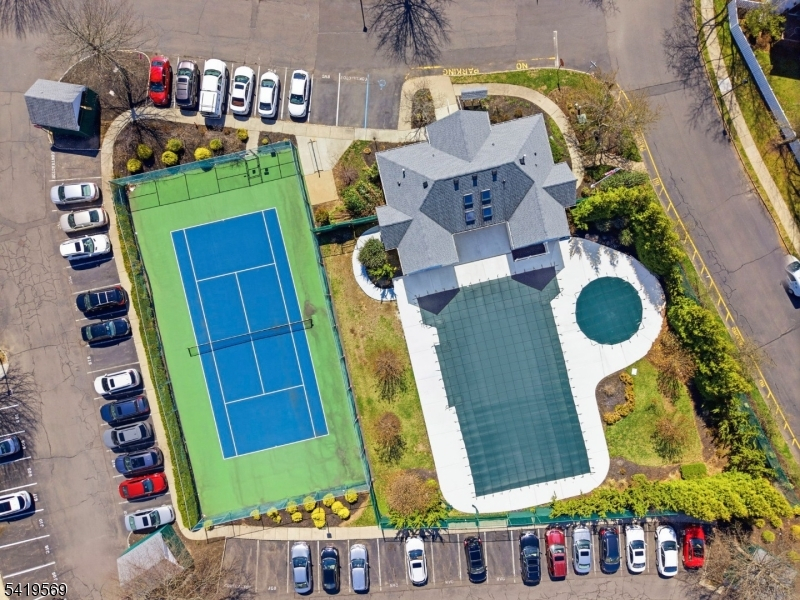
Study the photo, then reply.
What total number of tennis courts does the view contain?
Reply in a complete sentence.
The count comes to 1 tennis court.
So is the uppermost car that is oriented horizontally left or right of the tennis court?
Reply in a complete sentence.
The uppermost car that is oriented horizontally can be seen on the left of the tennis court.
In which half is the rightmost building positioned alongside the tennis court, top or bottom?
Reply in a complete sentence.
The rightmost building positioned alongside the tennis court sits in the top half of the picture.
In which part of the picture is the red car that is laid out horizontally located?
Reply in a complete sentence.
The red car that is laid out horizontally appears toward the bottom left of the photo.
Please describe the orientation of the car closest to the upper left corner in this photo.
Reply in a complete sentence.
I'd say the car closest to the upper left corner is aligned up and down in the picture.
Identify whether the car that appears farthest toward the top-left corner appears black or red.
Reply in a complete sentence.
The car that appears farthest toward the top-left corner looks red in the image.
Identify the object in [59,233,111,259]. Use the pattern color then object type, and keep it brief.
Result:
white car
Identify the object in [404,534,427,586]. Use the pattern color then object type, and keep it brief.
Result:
white car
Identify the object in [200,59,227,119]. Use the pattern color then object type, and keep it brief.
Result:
white vehicle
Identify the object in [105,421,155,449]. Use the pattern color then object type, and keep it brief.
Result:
gray car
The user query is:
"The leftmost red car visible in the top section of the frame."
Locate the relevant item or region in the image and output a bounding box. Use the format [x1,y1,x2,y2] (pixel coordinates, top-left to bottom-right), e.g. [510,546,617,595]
[147,56,173,105]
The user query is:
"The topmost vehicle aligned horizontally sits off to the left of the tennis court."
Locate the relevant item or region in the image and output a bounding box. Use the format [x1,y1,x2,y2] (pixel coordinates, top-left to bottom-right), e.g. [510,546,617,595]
[52,180,102,205]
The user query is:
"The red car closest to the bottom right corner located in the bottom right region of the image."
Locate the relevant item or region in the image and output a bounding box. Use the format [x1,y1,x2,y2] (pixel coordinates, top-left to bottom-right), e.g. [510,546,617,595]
[680,523,706,571]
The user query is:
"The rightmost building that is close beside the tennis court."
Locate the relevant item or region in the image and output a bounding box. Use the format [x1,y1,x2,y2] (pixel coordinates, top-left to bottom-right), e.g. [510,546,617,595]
[375,110,577,275]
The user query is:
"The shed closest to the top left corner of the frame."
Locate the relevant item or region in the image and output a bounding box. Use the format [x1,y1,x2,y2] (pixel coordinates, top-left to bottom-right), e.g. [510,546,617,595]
[24,78,101,138]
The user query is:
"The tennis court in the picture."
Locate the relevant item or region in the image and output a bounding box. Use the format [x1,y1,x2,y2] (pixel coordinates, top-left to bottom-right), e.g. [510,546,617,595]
[126,148,367,518]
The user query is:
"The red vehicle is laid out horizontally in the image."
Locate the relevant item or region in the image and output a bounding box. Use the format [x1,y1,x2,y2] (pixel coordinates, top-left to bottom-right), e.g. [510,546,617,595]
[117,472,169,499]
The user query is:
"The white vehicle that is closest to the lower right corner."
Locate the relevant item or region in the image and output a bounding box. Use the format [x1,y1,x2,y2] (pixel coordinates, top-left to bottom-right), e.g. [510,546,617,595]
[653,524,680,577]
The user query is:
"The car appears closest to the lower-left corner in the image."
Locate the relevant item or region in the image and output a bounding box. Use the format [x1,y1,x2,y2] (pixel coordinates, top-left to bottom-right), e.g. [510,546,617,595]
[0,491,36,520]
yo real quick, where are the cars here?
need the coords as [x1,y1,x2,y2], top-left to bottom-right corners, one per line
[404,534,427,586]
[101,395,152,423]
[116,448,166,476]
[76,286,130,312]
[289,541,313,594]
[95,370,142,395]
[52,180,102,205]
[780,255,800,301]
[61,209,110,232]
[105,421,155,449]
[59,233,111,259]
[80,318,132,343]
[517,530,544,586]
[598,526,623,573]
[230,66,255,116]
[680,523,706,571]
[462,533,488,583]
[123,504,176,531]
[318,544,340,593]
[348,542,370,591]
[570,526,595,576]
[543,528,570,581]
[117,472,169,499]
[147,56,173,105]
[257,72,280,120]
[0,491,36,520]
[653,524,680,577]
[173,60,200,110]
[623,523,648,573]
[287,70,310,119]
